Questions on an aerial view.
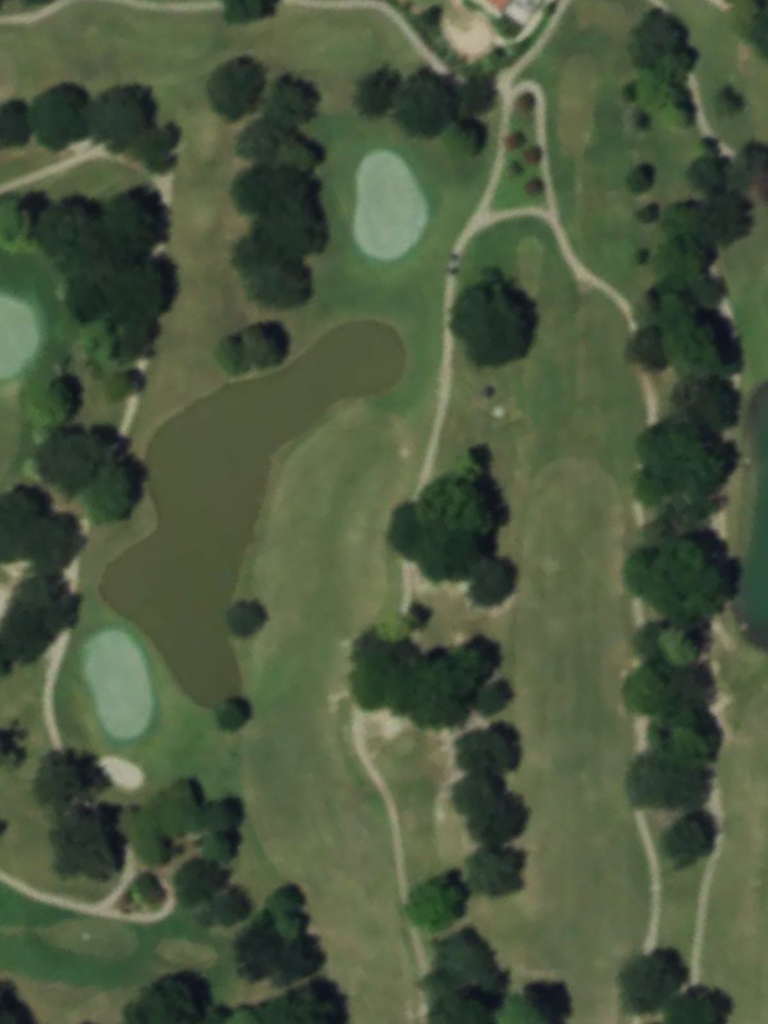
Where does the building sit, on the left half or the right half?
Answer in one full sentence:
The building appears in the right half of the scene.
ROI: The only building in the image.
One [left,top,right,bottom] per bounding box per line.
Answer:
[489,0,547,32]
